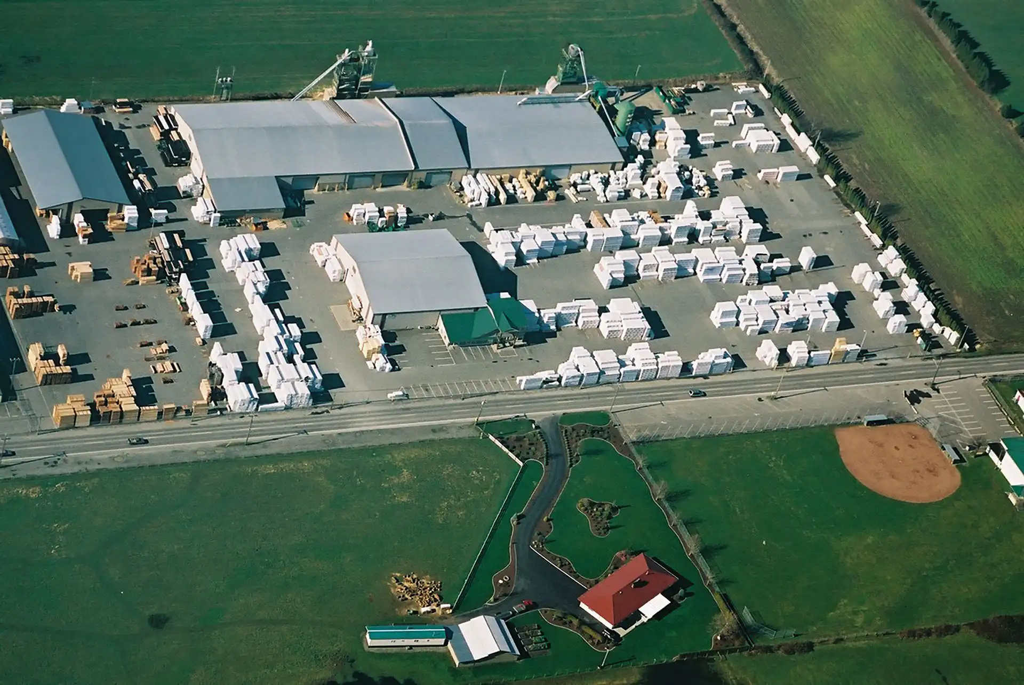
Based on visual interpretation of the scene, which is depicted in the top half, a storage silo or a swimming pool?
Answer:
storage silo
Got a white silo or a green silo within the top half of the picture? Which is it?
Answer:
green silo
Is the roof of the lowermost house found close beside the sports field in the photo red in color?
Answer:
Yes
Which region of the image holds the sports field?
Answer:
bottom right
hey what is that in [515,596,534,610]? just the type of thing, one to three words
vehicle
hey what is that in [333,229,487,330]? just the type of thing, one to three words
building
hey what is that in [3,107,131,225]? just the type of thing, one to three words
shed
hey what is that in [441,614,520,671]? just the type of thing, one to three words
barn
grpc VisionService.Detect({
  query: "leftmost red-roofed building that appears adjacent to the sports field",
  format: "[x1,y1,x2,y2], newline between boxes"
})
[577,554,678,630]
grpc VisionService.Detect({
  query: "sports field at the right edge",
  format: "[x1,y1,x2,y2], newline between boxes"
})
[639,425,1024,647]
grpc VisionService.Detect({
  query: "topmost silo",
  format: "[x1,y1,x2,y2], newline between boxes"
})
[614,97,641,132]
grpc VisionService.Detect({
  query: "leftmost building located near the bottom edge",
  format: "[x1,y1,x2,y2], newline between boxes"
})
[365,625,445,653]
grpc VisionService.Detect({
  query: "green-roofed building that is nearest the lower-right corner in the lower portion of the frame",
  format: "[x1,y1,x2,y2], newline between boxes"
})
[986,430,1024,483]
